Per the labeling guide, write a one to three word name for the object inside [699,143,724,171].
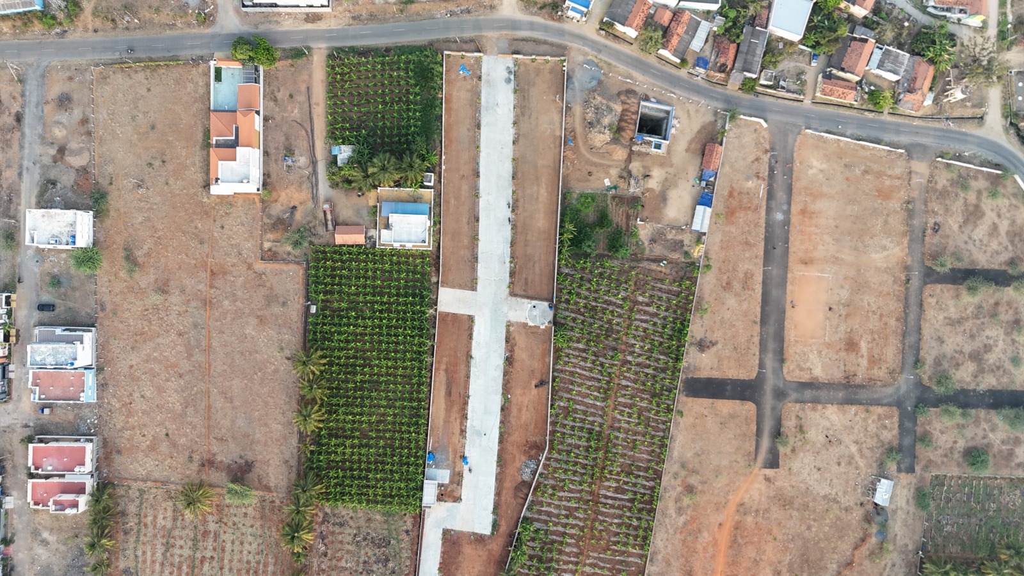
shed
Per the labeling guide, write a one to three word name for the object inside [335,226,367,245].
shed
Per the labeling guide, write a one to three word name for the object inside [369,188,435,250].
house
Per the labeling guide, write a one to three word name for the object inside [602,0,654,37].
house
